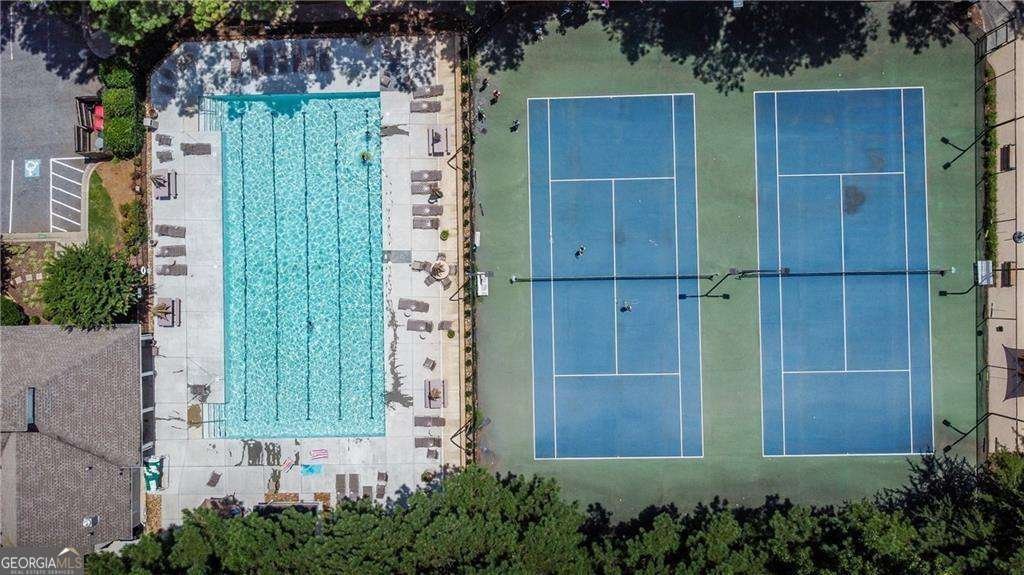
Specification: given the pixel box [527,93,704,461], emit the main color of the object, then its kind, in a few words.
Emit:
blue tennis court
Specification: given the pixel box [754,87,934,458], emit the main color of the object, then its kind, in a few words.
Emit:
blue tennis court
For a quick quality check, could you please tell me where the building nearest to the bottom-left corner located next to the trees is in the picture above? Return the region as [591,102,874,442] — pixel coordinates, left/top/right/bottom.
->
[0,324,154,575]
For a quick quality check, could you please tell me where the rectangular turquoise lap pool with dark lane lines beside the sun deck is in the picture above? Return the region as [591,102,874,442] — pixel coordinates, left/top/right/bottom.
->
[199,88,389,442]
